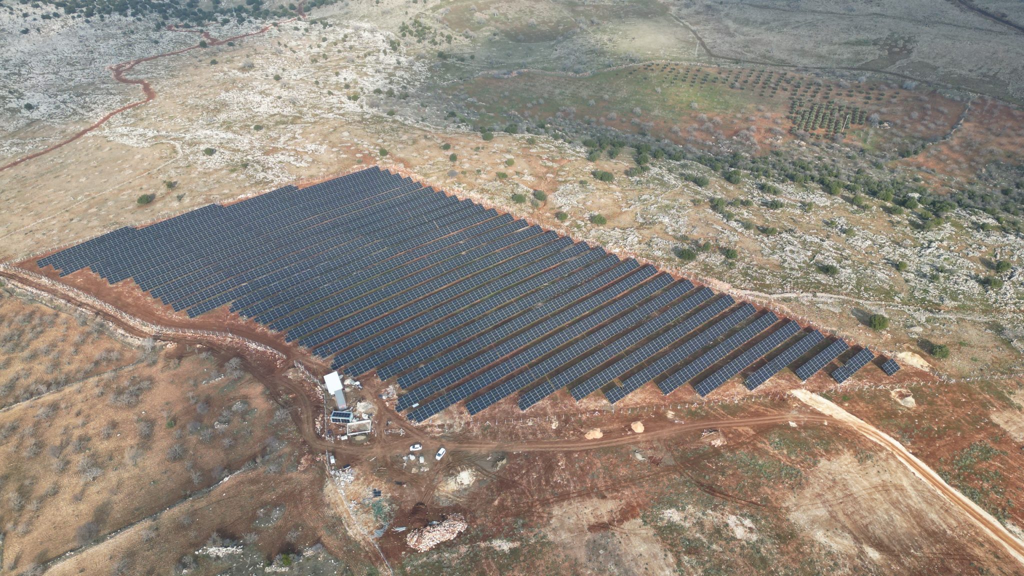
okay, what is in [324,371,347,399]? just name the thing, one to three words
shed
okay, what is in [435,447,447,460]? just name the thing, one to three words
vehicle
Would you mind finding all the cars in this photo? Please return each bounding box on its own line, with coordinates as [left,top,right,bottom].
[408,443,424,453]
[435,447,447,460]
